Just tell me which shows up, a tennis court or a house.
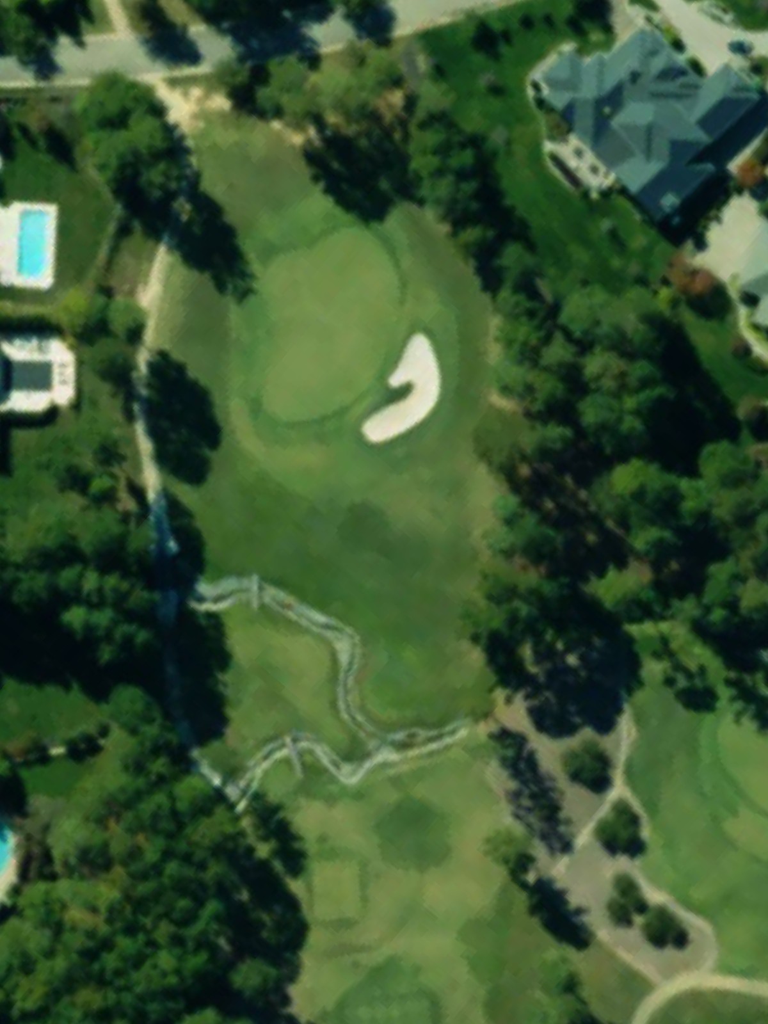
house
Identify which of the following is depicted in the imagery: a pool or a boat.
pool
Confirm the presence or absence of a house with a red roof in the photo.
No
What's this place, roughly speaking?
golf course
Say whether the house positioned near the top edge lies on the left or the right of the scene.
right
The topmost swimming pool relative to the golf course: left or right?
on its left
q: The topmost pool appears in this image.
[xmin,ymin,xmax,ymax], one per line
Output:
[0,202,59,289]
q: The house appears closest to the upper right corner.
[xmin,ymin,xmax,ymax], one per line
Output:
[538,23,762,221]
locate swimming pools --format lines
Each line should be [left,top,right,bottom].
[0,813,15,902]
[0,202,59,289]
[0,335,76,412]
